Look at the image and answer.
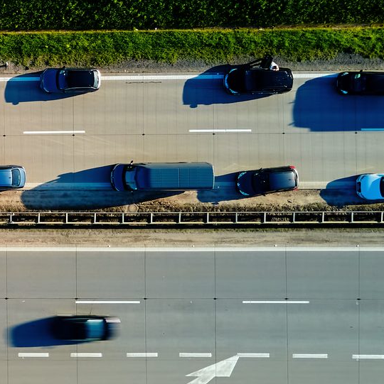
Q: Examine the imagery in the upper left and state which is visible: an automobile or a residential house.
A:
automobile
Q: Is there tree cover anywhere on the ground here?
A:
No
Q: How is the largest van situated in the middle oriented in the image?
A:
from side to side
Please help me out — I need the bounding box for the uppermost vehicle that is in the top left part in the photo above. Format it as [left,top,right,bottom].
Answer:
[40,64,101,94]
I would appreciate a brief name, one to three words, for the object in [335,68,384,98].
car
